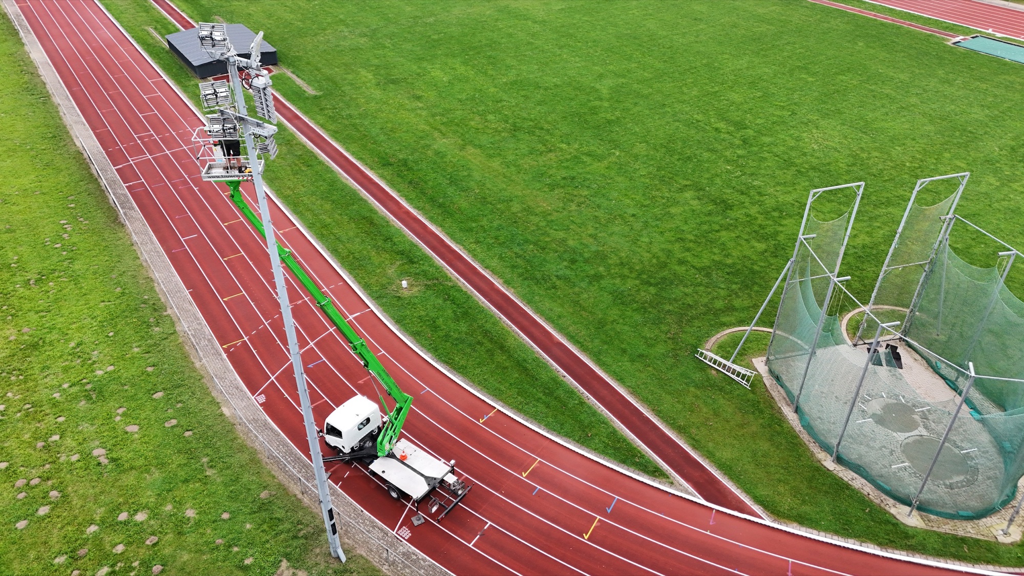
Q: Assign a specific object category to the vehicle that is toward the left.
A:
truck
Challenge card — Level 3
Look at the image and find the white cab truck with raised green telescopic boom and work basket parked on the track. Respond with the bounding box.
[191,127,475,526]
